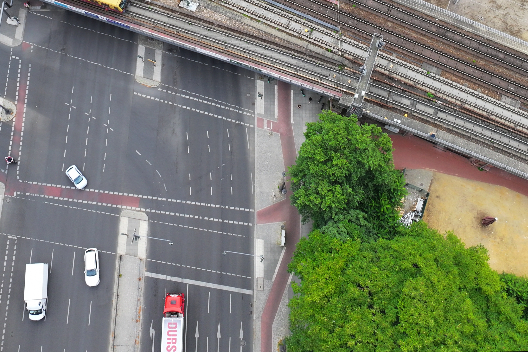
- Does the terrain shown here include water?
No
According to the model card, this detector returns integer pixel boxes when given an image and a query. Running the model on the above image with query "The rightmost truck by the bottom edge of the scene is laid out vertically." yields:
[160,291,185,352]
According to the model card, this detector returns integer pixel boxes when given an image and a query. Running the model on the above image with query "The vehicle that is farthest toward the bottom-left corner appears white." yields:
[21,261,46,322]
